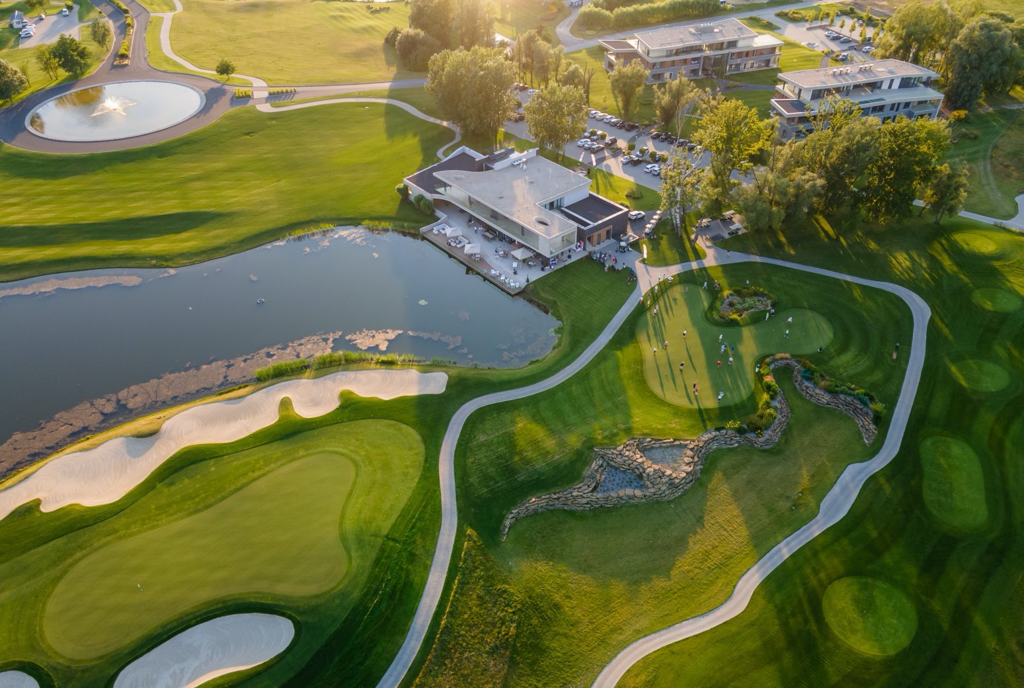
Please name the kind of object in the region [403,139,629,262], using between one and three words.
building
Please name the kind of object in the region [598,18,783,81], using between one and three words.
building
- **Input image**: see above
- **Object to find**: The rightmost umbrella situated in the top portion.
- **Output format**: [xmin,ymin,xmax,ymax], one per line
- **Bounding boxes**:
[510,248,533,263]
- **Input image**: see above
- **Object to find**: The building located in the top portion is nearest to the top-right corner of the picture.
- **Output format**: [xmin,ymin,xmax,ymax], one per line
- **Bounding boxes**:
[770,59,944,135]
